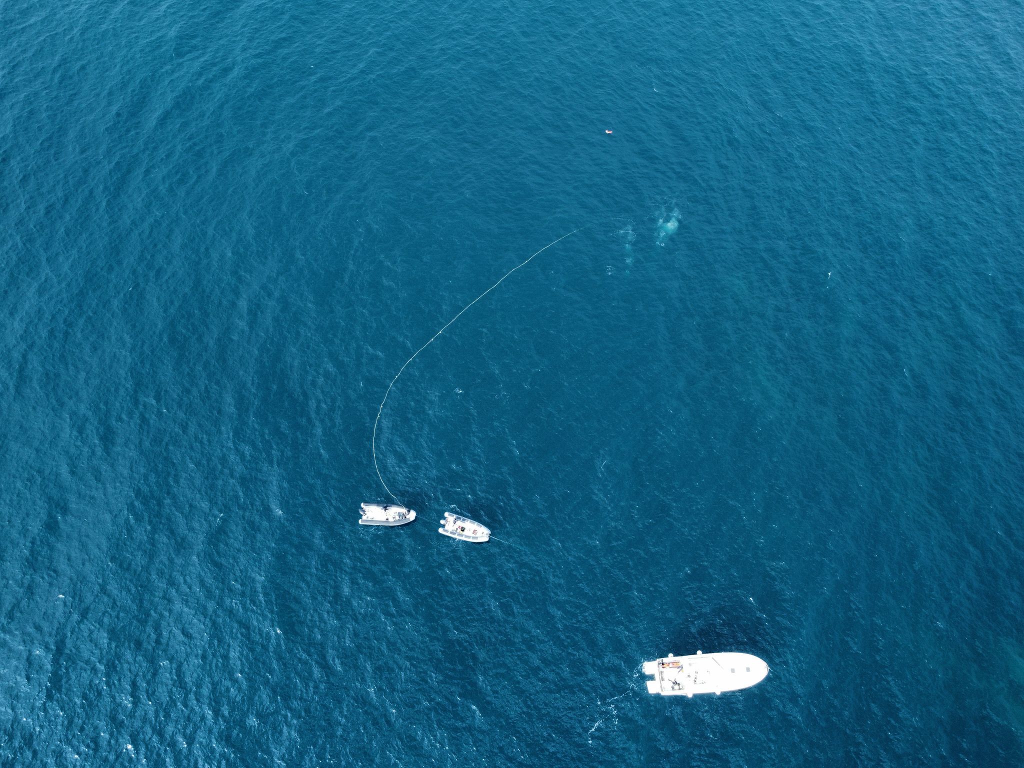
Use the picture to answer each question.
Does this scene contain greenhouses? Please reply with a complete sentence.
No, I can see no greenhouse in this picture.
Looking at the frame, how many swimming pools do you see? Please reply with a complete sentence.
I count no swimming pools.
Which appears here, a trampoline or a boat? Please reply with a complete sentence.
Looking from above, you can make out a boat.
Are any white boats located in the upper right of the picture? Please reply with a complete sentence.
No, there's no white boat to be seen in the upper right of the picture.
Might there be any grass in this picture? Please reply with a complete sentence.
No, no grass is visible.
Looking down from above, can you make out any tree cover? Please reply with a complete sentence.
No, the picture contains no tree cover.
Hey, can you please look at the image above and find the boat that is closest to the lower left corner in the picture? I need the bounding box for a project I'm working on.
[360,503,417,526]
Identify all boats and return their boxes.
[360,503,417,526]
[441,513,491,542]
[642,651,772,697]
